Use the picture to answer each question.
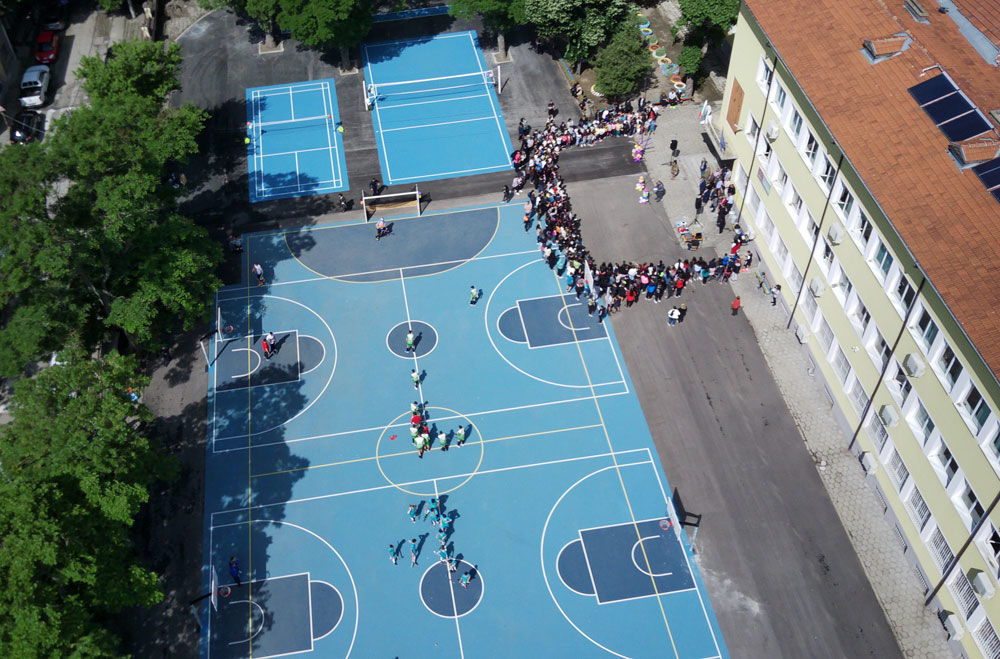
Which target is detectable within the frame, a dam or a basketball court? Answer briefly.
basketball court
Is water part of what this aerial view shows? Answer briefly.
No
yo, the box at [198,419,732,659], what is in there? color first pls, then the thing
blue basketball court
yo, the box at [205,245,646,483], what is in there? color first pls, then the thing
blue basketball court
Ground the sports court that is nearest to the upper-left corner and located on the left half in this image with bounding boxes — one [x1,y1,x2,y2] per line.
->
[246,78,350,203]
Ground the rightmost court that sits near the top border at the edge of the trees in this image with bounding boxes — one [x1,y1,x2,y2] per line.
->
[361,30,517,186]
